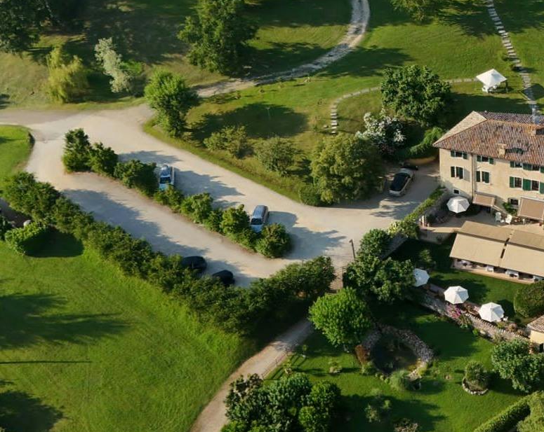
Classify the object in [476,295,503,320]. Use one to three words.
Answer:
umbrella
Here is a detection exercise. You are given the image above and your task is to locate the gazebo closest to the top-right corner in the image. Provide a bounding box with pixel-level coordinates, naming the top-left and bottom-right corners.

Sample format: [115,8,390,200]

[476,69,505,97]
